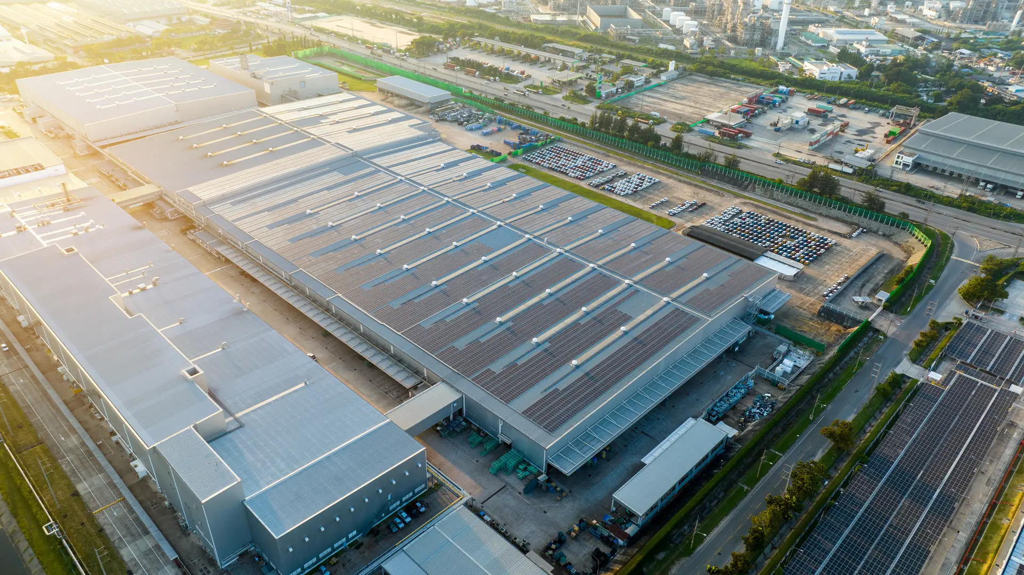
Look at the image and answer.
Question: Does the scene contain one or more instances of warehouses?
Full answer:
Yes, the image includes a warehouse.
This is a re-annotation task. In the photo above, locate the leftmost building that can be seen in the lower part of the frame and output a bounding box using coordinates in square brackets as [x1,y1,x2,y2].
[0,182,428,575]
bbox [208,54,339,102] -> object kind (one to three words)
building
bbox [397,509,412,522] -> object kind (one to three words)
vehicle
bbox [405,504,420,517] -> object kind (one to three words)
vehicle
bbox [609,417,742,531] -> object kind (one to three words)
shed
